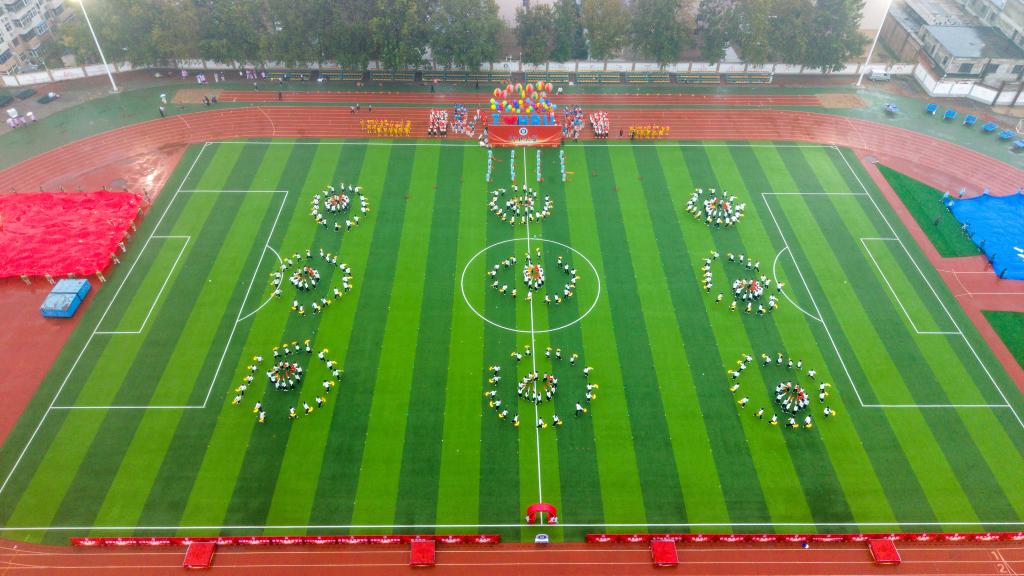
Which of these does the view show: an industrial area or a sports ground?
sports ground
